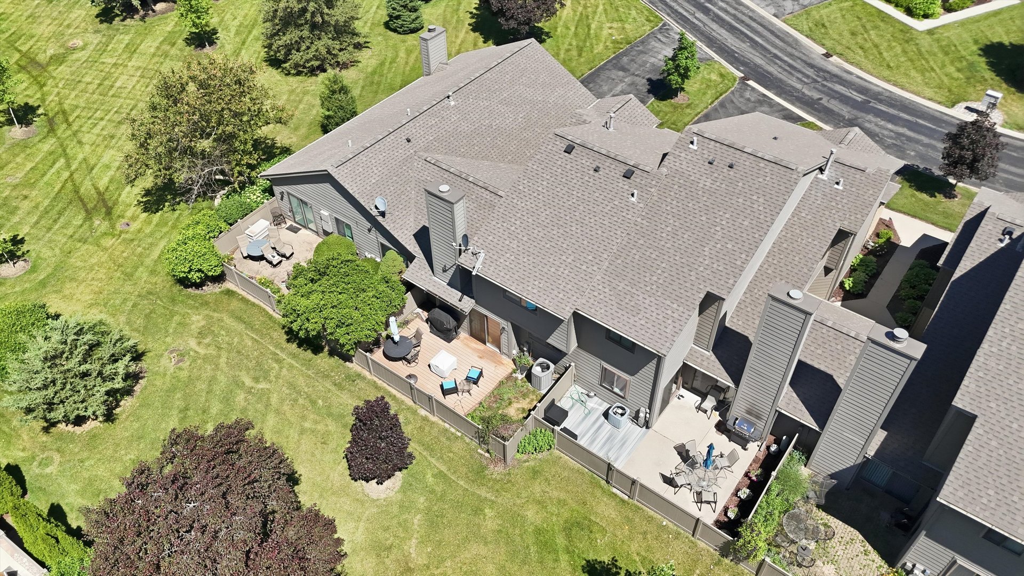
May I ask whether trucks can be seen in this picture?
No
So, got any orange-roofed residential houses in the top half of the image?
No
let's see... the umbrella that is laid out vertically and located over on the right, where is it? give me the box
[697,446,715,488]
